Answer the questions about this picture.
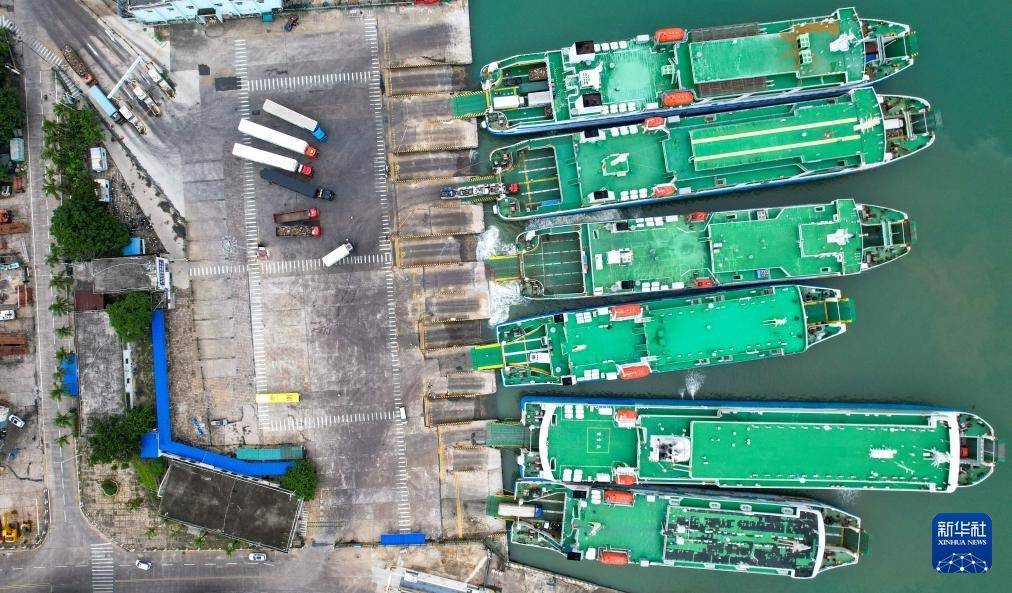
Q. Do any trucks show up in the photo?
Yes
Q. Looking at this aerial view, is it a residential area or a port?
port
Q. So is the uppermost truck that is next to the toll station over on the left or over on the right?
left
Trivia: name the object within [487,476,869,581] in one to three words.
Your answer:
ship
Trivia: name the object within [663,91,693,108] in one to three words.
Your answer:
boat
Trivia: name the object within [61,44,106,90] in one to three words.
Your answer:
truck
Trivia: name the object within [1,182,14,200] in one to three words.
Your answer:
vehicle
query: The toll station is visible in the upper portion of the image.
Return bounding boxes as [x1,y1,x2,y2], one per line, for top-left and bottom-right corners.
[108,57,174,133]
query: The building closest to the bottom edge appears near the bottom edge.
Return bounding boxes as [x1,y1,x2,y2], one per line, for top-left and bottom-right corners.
[399,562,468,593]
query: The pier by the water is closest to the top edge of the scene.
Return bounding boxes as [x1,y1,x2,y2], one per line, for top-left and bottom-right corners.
[381,0,473,67]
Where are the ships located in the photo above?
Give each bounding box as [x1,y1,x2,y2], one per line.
[457,87,938,222]
[487,476,869,581]
[451,8,919,137]
[487,199,914,299]
[486,395,1005,494]
[470,285,856,386]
